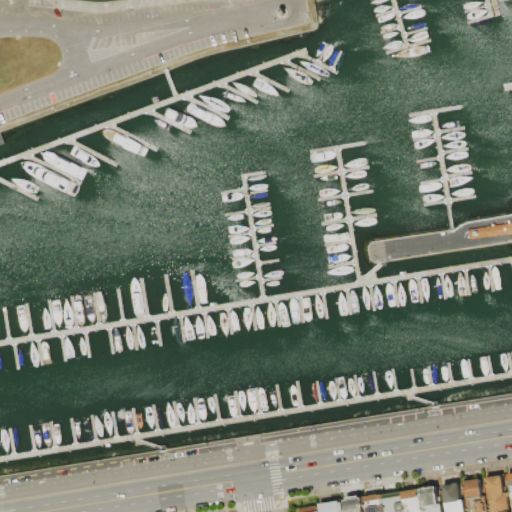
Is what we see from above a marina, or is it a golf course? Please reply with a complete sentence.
What you see here is a marina.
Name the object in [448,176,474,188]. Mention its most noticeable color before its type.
white boat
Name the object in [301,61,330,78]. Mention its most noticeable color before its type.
white boat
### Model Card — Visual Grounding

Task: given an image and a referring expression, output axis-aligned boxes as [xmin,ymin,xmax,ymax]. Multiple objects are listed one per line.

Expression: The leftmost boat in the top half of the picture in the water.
[12,178,40,194]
